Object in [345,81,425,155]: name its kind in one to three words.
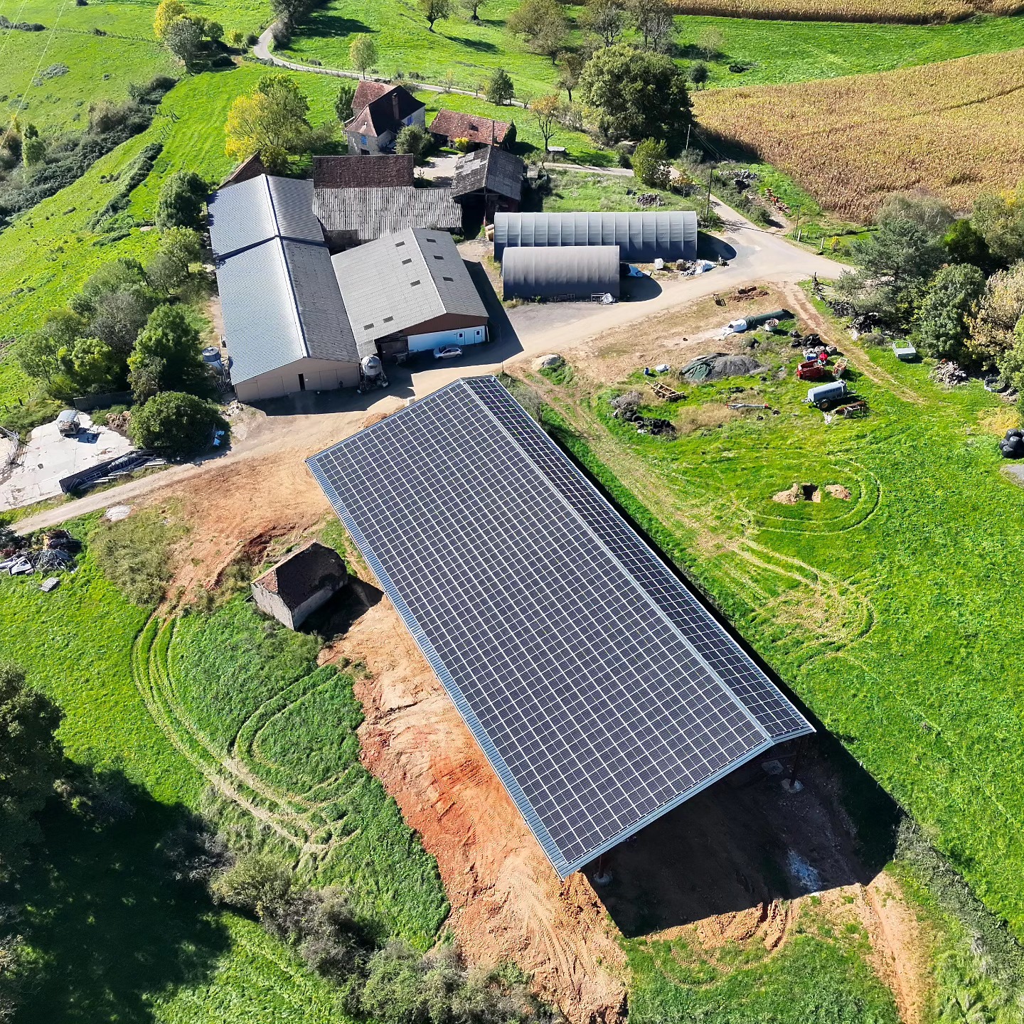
house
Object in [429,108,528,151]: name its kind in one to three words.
shed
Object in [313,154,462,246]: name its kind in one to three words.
barn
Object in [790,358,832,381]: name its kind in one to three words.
trailer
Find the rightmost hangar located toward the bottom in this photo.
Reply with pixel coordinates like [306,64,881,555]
[305,375,817,882]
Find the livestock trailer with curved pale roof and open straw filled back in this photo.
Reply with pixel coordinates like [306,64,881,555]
[45,402,86,440]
